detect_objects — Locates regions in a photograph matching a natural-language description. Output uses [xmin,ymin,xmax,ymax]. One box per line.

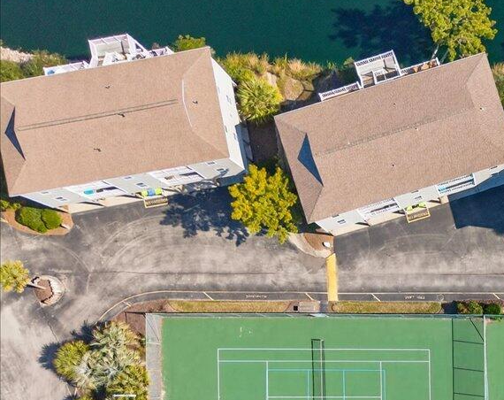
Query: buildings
[0,36,258,212]
[275,52,504,236]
